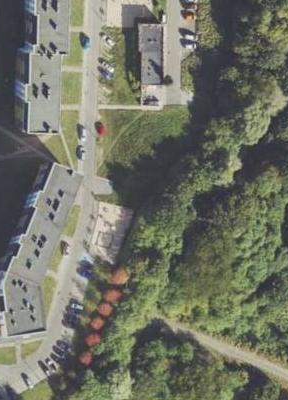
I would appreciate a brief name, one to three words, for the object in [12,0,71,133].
building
